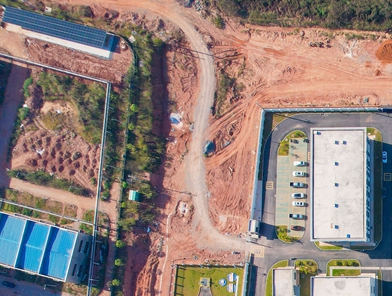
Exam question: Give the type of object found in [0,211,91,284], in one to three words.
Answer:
building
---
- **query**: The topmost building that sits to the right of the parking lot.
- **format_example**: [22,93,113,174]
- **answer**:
[310,128,381,250]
